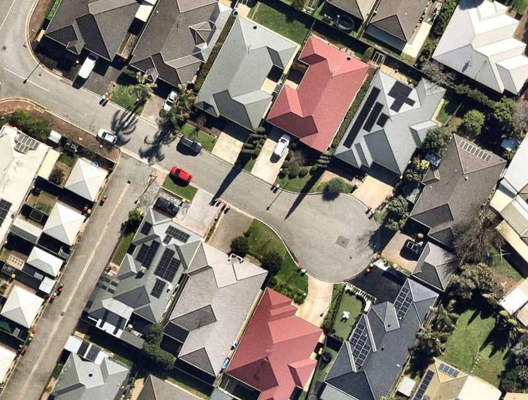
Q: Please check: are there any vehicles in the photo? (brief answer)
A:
Yes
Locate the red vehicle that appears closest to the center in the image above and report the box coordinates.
[170,169,191,182]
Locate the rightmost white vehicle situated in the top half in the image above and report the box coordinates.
[272,133,290,158]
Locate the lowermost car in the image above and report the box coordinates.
[401,240,424,255]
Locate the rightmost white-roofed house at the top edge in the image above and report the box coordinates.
[433,0,528,100]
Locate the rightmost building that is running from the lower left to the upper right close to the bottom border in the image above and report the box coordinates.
[318,276,438,400]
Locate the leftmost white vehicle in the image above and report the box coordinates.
[77,55,94,80]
